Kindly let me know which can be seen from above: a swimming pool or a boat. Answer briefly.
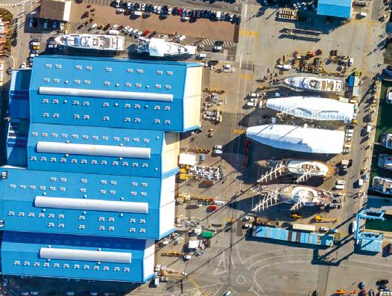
boat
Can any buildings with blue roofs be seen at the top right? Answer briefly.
Yes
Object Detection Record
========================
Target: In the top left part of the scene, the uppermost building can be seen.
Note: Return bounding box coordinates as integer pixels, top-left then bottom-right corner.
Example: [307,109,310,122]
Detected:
[39,0,78,21]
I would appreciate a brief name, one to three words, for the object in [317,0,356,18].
building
